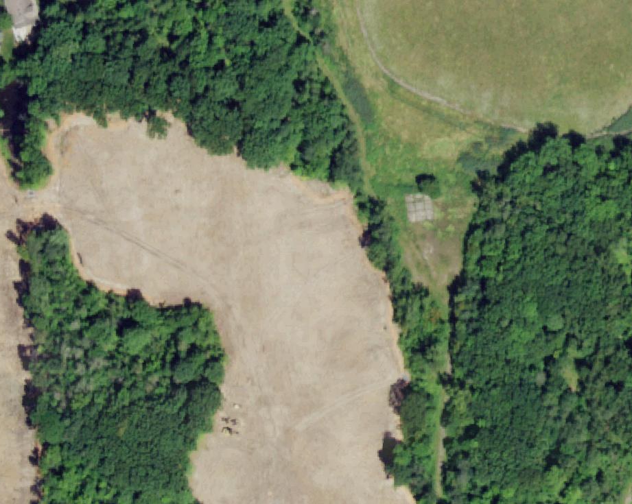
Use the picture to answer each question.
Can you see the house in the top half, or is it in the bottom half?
top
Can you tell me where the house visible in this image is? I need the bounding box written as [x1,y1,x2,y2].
[5,0,42,42]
